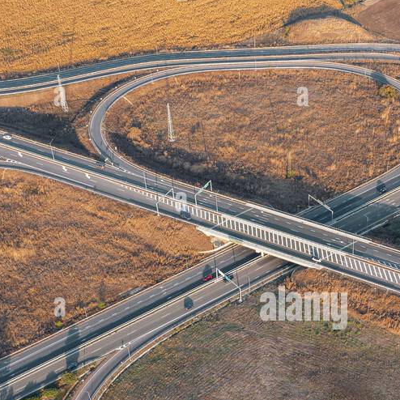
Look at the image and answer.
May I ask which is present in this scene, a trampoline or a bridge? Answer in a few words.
bridge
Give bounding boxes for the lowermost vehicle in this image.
[61,358,81,372]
